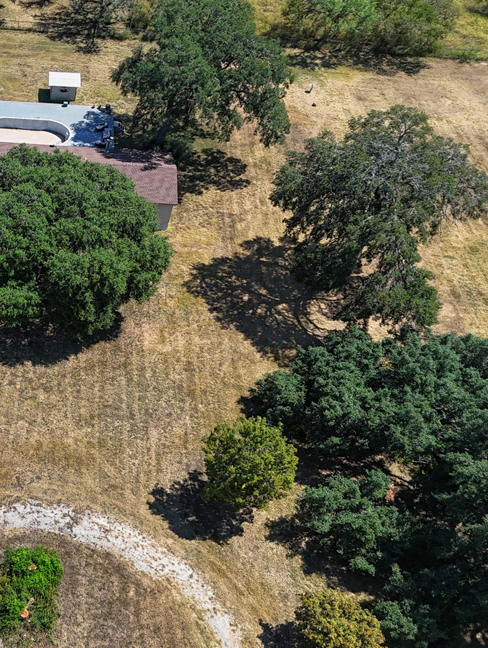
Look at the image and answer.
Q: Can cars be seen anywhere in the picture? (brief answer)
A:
No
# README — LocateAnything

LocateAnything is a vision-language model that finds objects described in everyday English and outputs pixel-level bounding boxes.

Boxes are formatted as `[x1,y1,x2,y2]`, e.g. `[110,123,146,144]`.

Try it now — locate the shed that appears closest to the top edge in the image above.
[49,70,80,103]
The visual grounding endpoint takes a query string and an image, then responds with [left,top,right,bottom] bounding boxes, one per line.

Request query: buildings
[0,141,179,227]
[49,70,80,103]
